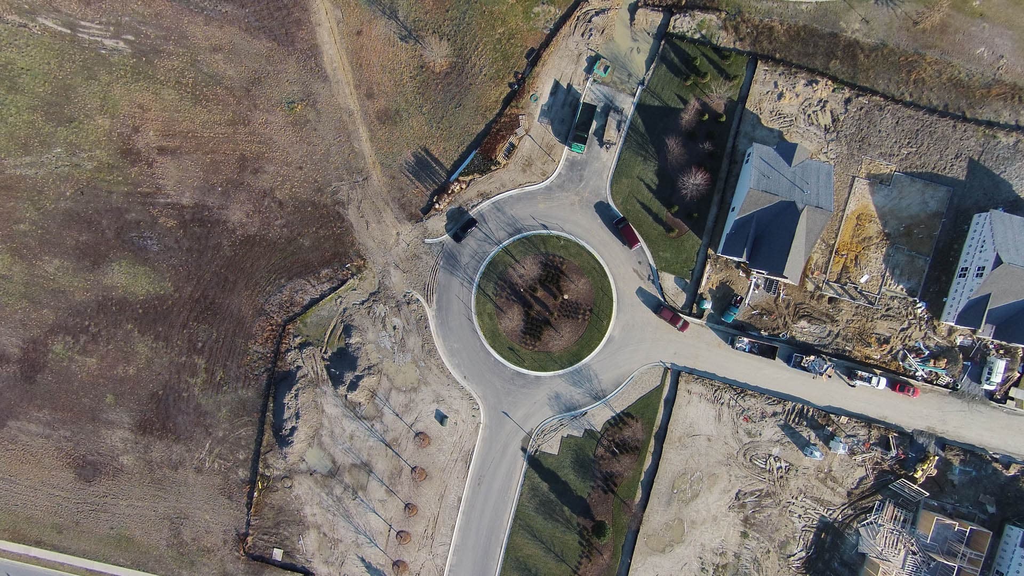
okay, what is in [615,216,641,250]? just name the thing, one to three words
truck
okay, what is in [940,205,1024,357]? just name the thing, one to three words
house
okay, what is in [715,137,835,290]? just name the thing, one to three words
house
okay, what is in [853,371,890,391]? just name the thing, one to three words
vehicle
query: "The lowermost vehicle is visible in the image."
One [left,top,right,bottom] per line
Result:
[912,447,947,481]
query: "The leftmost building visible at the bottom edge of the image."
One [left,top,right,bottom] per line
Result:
[850,499,993,576]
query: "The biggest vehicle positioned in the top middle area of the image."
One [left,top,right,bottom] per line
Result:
[568,98,598,155]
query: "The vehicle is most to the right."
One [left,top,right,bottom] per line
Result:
[981,352,1006,387]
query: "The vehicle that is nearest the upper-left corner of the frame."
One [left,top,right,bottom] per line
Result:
[451,215,478,243]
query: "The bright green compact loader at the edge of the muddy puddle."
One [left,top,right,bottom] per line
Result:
[594,56,612,83]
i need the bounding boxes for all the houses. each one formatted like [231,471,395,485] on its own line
[991,525,1024,576]
[715,137,835,290]
[940,205,1024,357]
[850,499,993,576]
